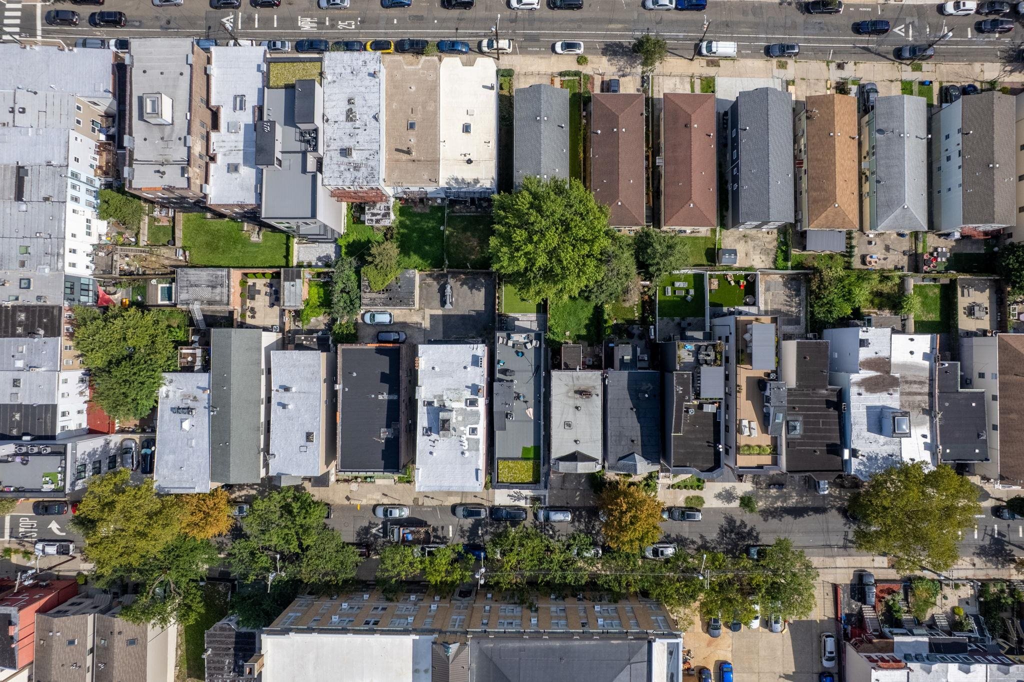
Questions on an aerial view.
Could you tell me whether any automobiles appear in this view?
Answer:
Yes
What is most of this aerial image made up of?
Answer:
buildings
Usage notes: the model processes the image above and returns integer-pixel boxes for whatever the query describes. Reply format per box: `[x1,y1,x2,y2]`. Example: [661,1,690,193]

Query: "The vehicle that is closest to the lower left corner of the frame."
[37,540,74,557]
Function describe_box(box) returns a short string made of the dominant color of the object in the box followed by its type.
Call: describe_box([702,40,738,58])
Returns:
white vehicle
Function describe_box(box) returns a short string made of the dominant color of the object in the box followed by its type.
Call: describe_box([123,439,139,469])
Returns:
gray car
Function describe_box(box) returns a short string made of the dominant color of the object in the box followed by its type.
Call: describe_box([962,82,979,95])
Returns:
black vehicle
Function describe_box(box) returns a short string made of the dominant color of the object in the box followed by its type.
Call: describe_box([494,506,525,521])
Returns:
black car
